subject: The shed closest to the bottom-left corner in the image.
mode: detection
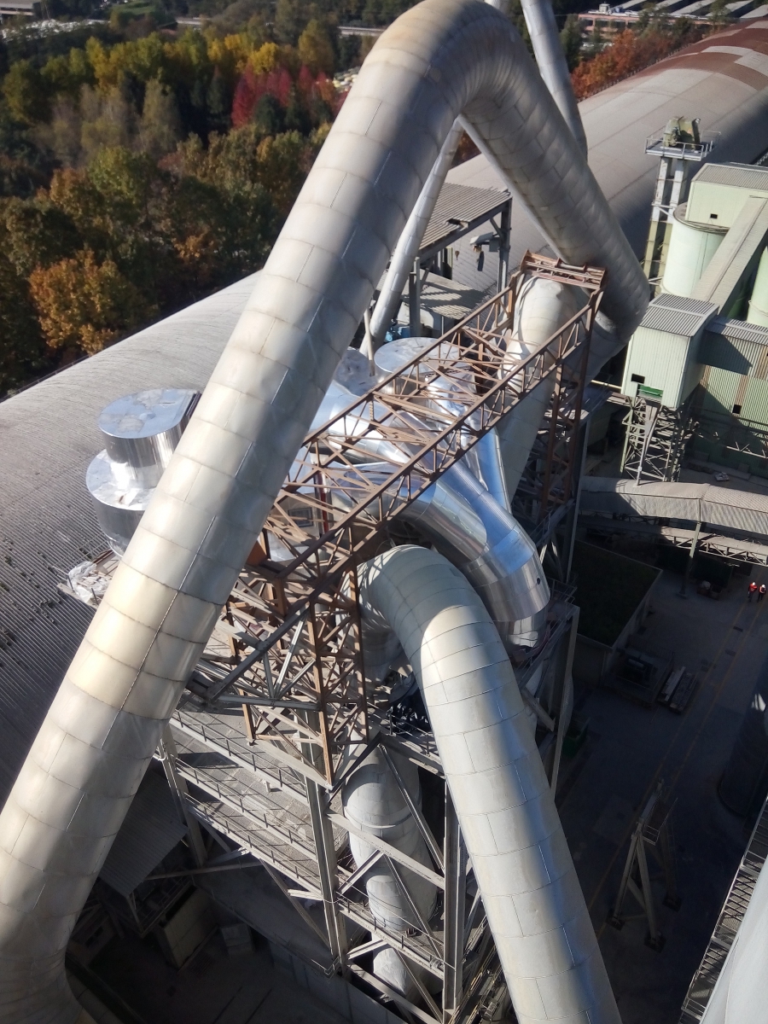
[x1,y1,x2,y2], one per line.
[70,902,122,978]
